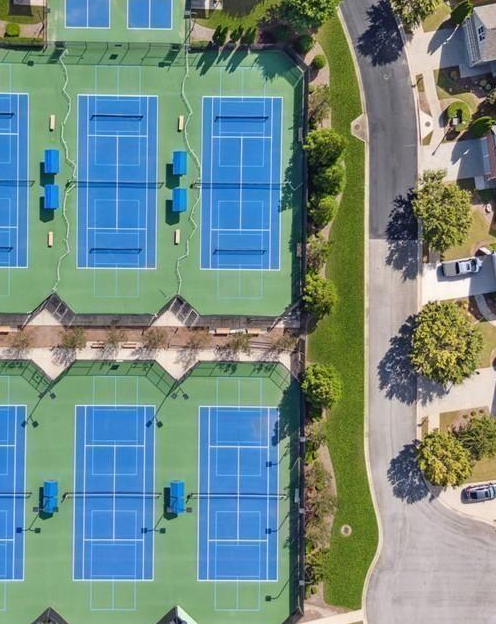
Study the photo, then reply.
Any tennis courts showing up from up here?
Yes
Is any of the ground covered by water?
No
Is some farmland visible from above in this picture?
No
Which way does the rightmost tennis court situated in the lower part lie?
vertically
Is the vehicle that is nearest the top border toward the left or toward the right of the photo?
right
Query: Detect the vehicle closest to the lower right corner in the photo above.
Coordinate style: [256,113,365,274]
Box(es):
[467,484,496,503]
